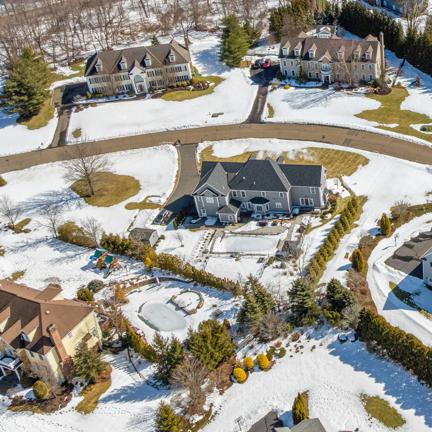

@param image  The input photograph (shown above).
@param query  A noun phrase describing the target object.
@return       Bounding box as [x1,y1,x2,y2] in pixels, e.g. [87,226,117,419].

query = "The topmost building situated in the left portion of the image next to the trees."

[85,31,195,93]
